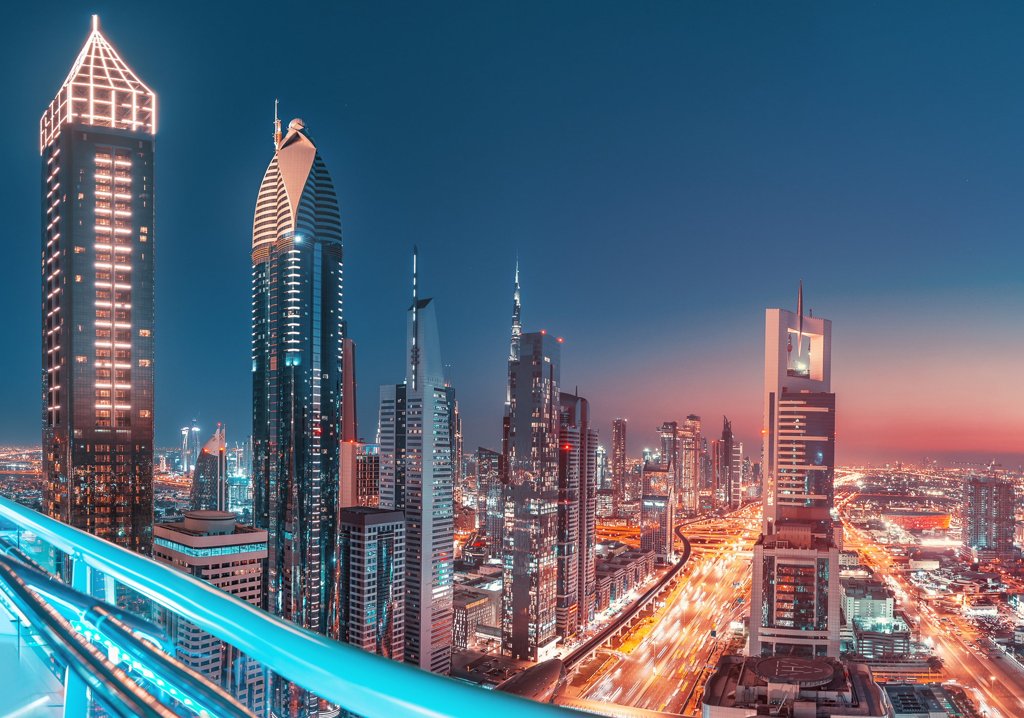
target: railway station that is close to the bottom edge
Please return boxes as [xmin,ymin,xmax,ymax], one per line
[498,663,573,704]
